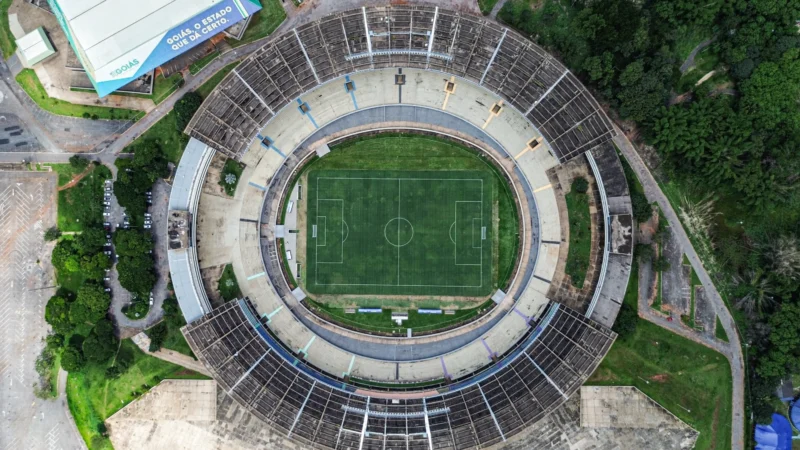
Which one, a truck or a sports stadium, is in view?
sports stadium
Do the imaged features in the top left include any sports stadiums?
Yes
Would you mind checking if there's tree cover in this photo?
Yes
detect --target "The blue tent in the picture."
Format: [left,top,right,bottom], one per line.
[752,412,792,450]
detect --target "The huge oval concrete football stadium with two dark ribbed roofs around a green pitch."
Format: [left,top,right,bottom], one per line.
[167,5,633,450]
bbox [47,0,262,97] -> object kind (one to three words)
stadium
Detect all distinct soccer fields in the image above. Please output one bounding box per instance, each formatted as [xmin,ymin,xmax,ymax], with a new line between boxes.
[307,170,493,295]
